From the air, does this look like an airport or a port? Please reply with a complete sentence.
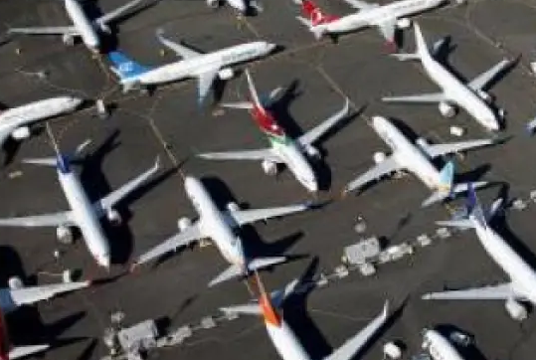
This image shows an airport.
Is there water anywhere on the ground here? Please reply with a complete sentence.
No, no water is visible.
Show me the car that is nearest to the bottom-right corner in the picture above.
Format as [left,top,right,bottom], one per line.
[450,327,472,343]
